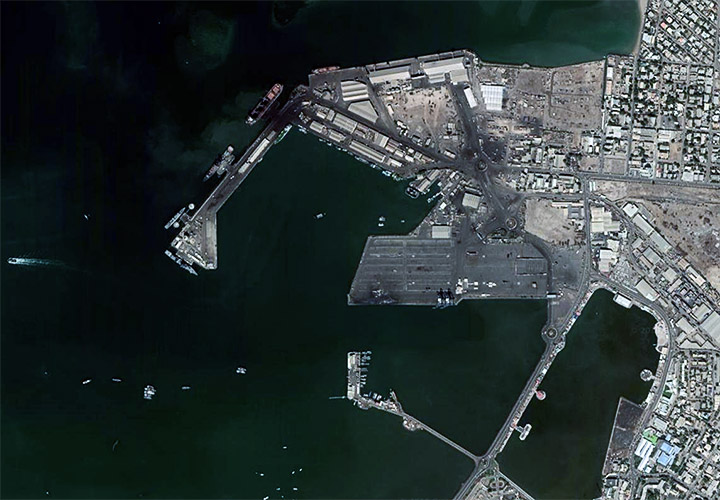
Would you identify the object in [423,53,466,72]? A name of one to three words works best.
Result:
building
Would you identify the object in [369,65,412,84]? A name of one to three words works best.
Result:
building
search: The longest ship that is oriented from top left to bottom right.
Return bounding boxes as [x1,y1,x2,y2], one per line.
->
[165,250,198,275]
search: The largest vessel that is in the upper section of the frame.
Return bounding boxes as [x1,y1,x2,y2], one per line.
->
[245,84,281,125]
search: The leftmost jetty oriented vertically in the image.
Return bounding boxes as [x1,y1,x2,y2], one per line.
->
[347,352,361,400]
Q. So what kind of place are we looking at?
port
